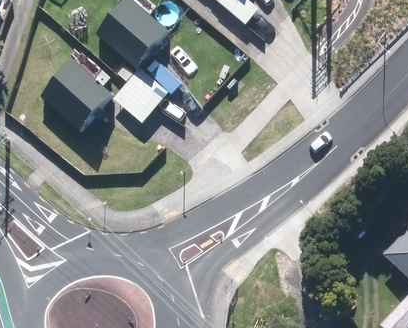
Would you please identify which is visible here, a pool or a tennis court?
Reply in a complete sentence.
Of the two, only a pool appears.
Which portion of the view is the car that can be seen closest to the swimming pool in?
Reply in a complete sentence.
The car that can be seen closest to the swimming pool is located in the top region of the scene.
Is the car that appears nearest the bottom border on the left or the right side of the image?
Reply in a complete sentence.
The car that appears nearest the bottom border sits on the right side.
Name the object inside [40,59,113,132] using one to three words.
house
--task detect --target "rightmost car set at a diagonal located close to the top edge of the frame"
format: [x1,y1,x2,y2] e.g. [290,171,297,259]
[250,12,280,41]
